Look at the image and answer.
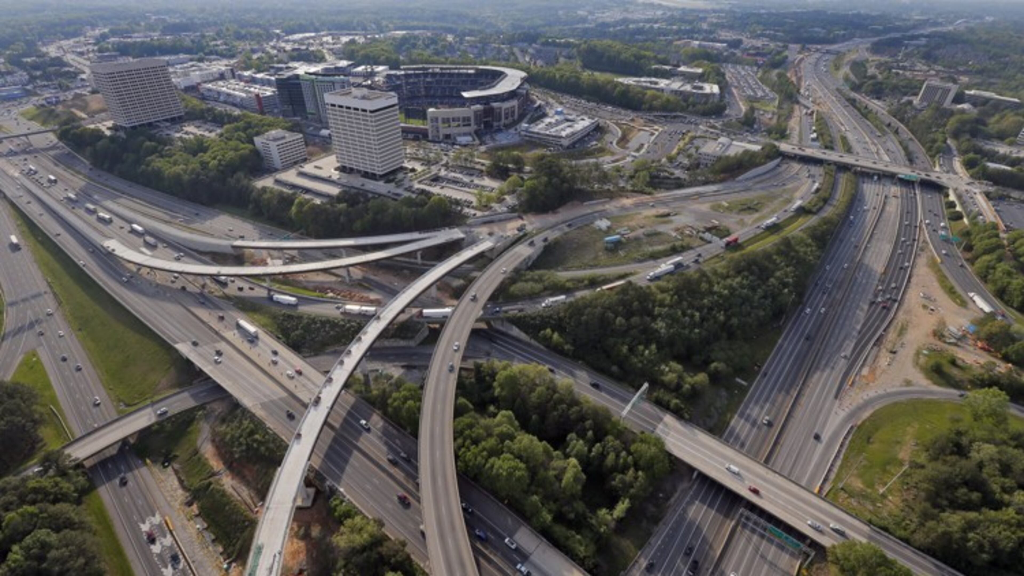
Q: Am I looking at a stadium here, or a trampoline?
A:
stadium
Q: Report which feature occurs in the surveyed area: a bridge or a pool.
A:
bridge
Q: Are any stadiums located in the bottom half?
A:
No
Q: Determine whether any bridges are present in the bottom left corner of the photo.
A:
Yes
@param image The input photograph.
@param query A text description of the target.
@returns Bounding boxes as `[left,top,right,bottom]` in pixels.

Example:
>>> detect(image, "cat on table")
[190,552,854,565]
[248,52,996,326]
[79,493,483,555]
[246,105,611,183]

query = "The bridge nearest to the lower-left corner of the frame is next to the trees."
[68,403,158,463]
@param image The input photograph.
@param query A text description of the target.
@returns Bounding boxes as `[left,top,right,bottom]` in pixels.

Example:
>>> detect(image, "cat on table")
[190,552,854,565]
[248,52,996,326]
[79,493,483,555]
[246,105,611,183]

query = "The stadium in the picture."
[363,65,529,139]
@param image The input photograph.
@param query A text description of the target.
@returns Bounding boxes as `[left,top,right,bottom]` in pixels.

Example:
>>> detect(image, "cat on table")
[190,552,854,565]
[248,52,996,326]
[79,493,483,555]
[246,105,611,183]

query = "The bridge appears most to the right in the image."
[761,140,964,192]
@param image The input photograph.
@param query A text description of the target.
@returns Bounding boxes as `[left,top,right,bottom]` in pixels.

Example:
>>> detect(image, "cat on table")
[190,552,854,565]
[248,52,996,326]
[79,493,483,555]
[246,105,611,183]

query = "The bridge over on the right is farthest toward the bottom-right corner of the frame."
[656,416,848,550]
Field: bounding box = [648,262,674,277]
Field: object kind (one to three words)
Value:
vehicle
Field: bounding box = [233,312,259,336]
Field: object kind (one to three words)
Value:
truck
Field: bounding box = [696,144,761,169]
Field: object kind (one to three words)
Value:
building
